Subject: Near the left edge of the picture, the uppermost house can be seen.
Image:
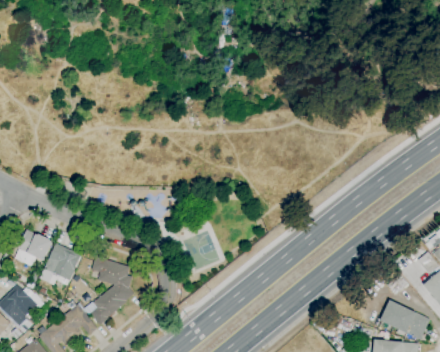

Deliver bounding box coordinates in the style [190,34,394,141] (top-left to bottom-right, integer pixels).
[20,230,50,262]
